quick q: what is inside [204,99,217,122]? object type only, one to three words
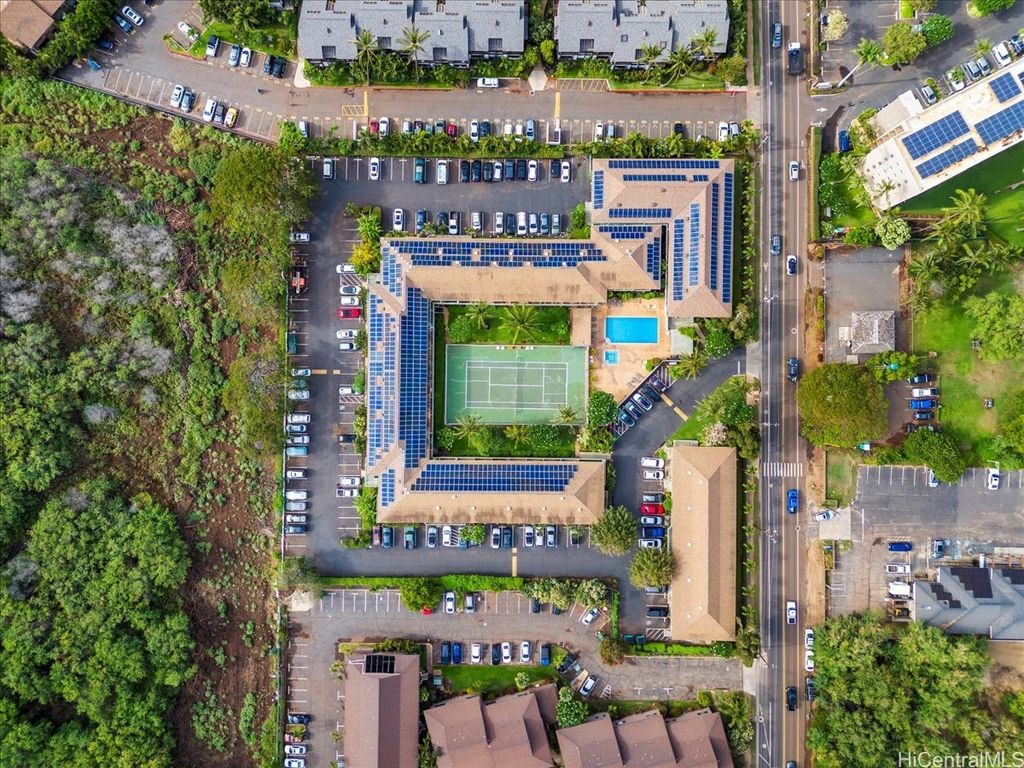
vehicle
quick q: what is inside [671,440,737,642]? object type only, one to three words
building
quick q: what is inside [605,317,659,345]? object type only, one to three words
swimming pool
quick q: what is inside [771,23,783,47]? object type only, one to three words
vehicle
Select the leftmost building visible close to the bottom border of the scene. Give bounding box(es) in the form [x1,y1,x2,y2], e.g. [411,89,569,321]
[344,649,421,768]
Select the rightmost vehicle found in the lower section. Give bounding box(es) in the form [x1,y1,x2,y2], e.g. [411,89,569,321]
[987,469,999,489]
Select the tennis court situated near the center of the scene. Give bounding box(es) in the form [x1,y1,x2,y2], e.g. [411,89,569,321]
[443,344,589,426]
